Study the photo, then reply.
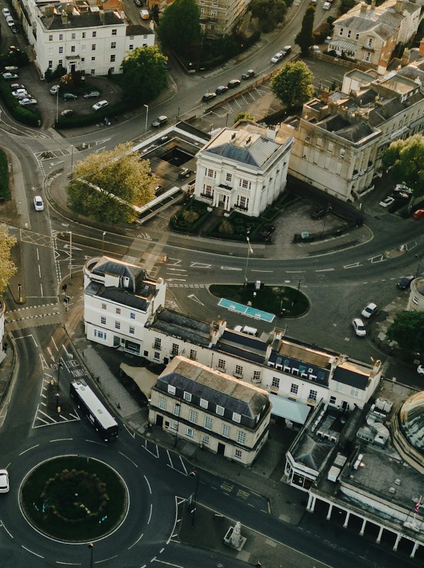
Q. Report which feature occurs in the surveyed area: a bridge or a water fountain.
water fountain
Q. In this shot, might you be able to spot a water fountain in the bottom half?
Yes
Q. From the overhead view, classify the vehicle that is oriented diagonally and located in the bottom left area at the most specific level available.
bus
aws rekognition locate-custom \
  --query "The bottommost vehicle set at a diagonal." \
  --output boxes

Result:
[67,381,125,445]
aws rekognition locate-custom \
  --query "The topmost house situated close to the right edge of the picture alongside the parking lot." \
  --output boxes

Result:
[325,0,424,72]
